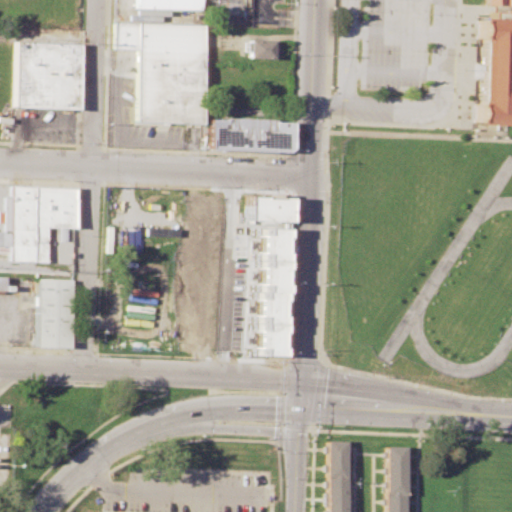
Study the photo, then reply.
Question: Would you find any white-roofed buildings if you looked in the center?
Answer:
Yes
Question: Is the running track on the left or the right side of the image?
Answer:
right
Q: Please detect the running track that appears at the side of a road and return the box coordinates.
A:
[382,149,512,374]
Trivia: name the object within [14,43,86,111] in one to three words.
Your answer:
building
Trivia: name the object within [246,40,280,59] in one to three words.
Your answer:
house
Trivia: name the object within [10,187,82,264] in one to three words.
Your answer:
building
